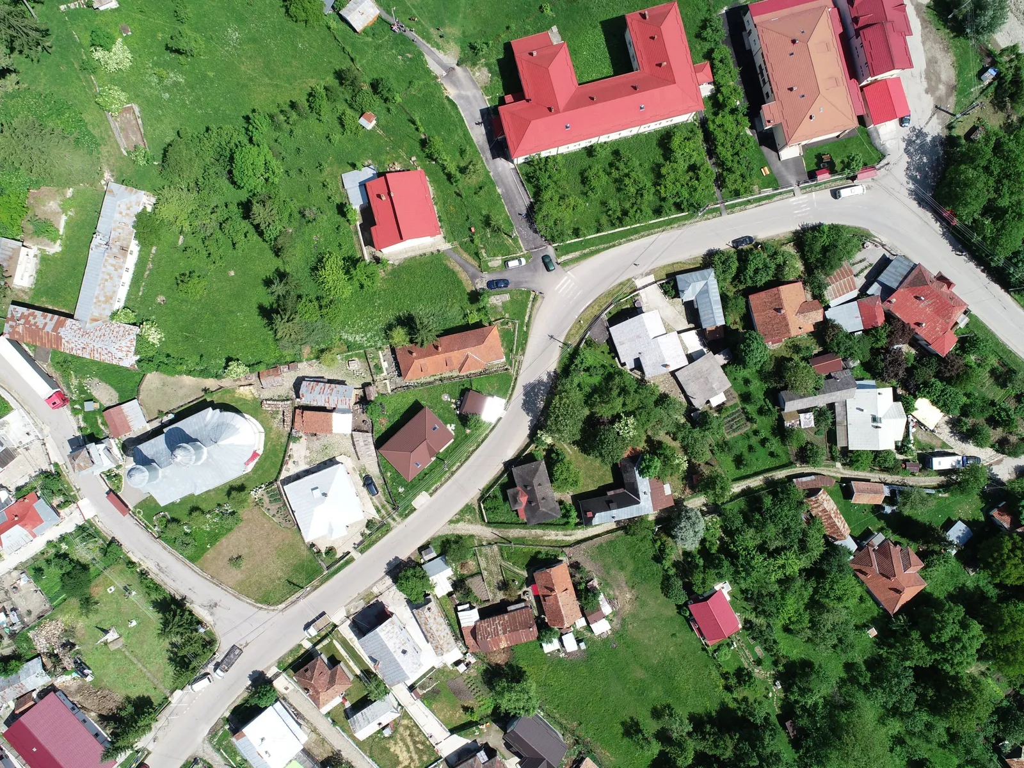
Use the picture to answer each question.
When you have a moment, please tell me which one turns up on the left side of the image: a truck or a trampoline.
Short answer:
truck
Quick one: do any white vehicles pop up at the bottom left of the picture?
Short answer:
Yes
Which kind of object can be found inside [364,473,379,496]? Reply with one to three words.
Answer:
car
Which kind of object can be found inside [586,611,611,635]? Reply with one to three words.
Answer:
shed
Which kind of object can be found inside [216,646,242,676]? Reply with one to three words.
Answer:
truck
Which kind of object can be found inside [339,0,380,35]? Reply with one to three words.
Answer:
house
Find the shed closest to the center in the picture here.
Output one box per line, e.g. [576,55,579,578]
[462,391,505,422]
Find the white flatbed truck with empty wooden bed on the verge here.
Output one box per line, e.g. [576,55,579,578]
[304,610,332,634]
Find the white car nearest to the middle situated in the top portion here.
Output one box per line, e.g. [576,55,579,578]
[504,257,525,269]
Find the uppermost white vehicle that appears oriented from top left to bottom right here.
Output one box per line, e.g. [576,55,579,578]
[0,336,73,408]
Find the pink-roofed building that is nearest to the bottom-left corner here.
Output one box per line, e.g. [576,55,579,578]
[3,683,128,768]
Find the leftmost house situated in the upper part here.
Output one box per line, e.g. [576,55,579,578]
[0,240,41,289]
